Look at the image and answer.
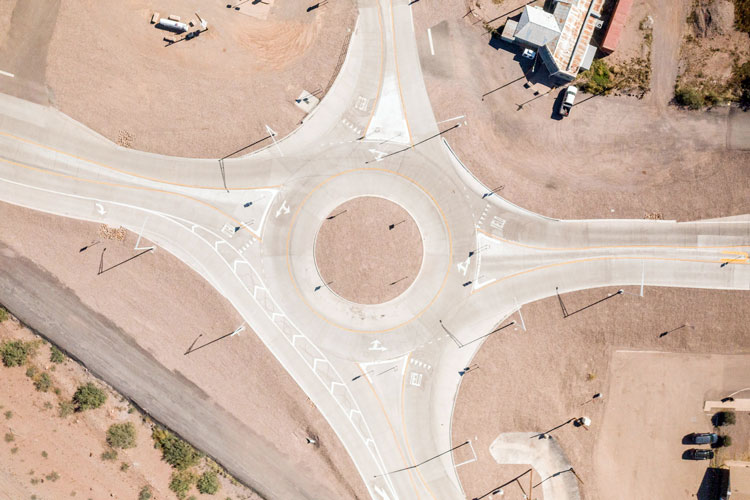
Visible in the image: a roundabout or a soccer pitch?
roundabout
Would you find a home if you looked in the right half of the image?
Yes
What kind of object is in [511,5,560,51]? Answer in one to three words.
house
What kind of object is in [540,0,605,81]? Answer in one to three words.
building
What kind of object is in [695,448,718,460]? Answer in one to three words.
vehicle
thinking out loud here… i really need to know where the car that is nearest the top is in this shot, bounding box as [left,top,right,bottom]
[520,49,535,61]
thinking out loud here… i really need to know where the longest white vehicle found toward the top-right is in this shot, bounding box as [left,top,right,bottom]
[560,86,577,116]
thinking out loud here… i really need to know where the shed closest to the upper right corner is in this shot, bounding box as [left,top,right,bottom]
[595,0,632,56]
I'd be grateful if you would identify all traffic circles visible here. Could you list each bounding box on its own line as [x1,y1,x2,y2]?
[258,139,479,361]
